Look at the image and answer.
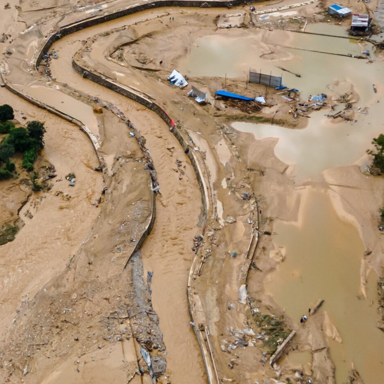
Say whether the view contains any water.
Yes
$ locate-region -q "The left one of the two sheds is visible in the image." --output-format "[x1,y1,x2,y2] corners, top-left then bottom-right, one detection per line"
[327,3,350,21]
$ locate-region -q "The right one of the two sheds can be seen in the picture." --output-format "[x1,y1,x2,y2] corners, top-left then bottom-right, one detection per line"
[349,11,370,32]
